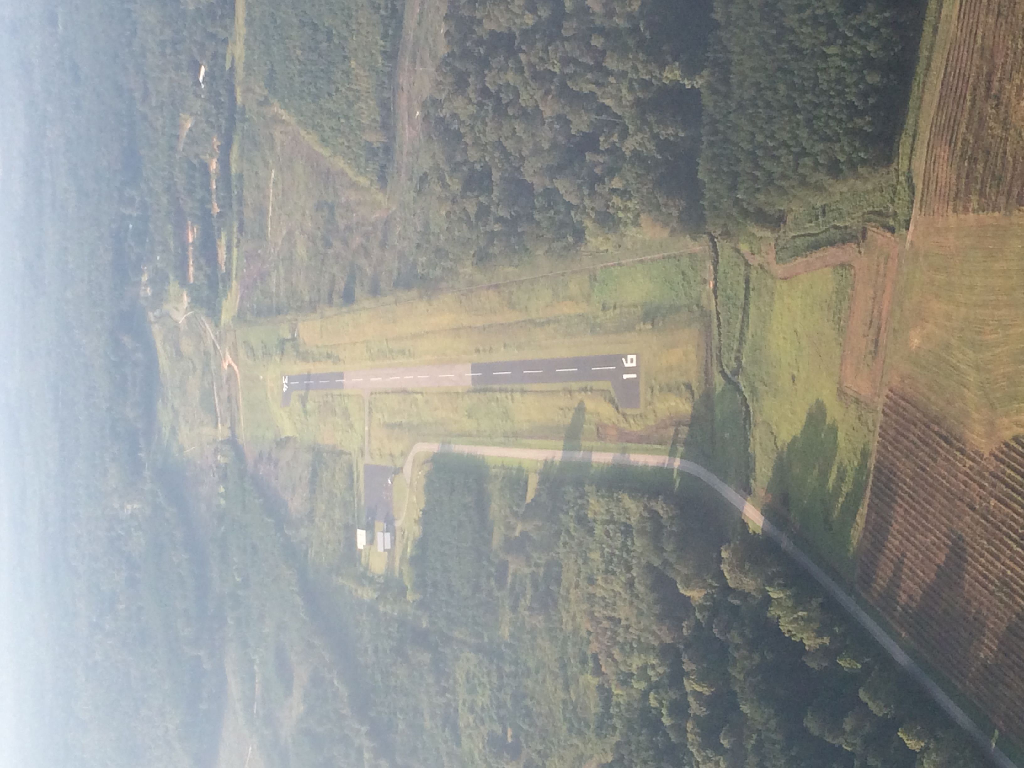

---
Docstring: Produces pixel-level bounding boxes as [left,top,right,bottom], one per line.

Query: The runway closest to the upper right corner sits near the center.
[471,353,640,408]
